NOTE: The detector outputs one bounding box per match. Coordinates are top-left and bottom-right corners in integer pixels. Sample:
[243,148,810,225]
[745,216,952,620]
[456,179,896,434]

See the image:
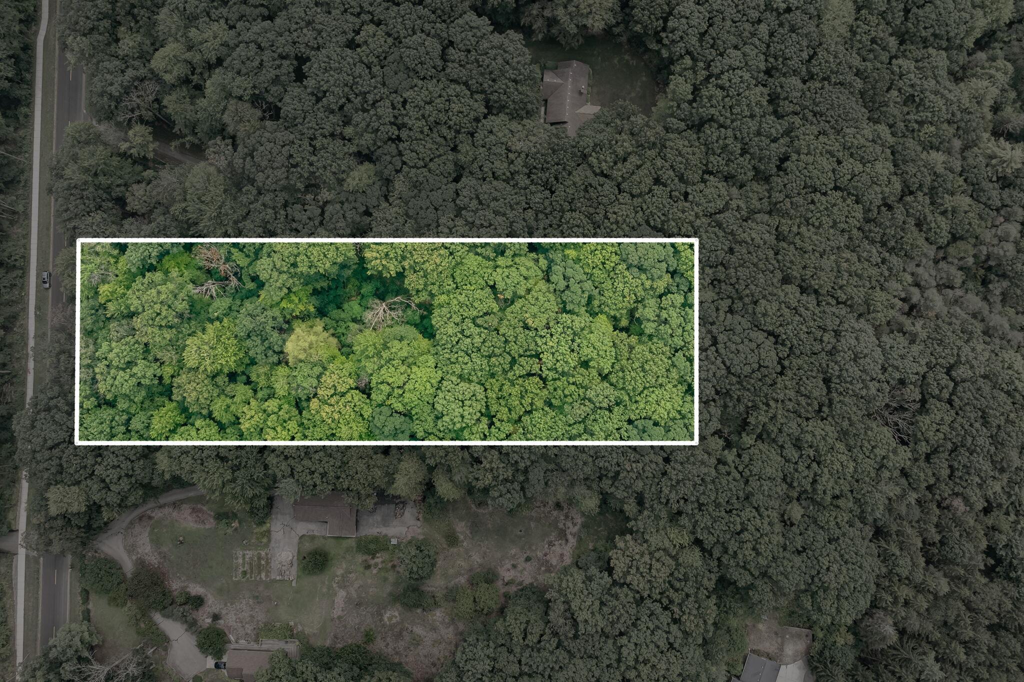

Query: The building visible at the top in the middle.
[541,60,601,145]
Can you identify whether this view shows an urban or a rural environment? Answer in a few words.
rural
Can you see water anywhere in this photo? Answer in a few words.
No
